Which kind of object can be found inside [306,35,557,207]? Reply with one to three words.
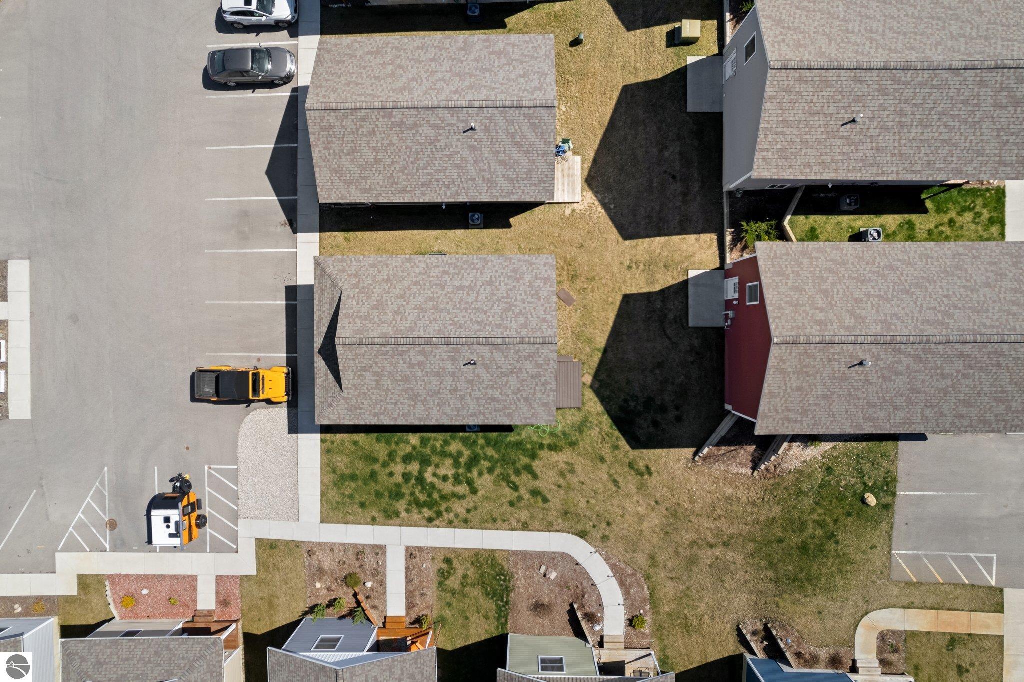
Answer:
house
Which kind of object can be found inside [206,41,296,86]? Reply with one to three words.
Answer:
car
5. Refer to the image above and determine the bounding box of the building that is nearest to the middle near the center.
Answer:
[314,255,559,424]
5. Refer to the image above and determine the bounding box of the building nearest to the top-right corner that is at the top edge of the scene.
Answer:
[721,0,1024,196]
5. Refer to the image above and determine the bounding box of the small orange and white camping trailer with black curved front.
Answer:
[149,472,205,548]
